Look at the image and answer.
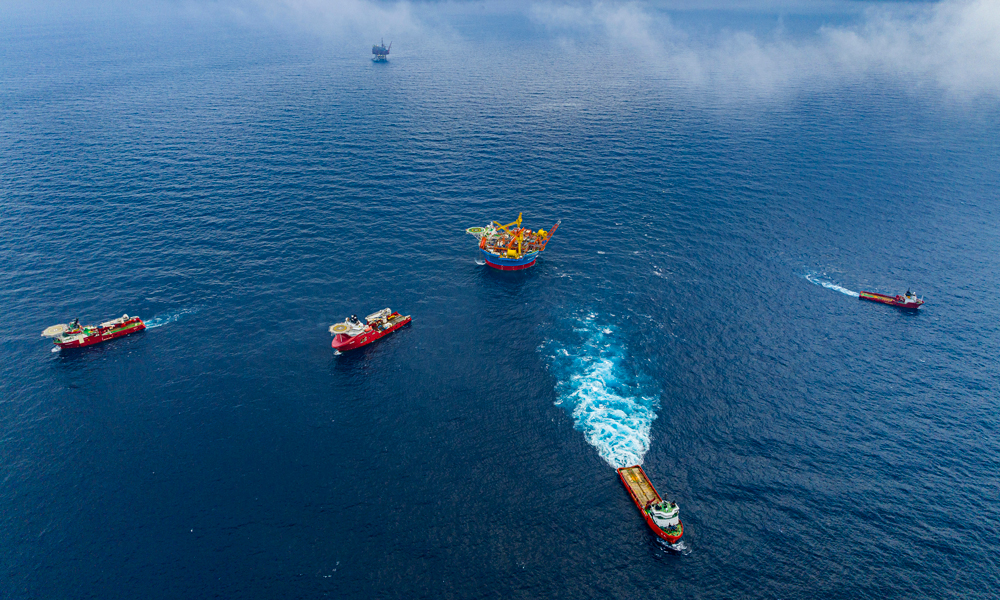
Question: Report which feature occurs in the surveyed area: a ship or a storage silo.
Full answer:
This aerial view contains a ship.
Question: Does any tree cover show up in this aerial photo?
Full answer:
No, no tree cover is visible.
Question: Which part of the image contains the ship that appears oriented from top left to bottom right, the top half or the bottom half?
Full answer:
The ship that appears oriented from top left to bottom right sits in the bottom half of the picture.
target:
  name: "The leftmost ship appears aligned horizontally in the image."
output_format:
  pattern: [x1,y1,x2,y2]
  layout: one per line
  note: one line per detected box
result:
[41,315,145,348]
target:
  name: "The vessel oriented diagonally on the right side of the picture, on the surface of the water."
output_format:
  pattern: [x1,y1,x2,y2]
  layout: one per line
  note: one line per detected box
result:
[618,466,680,541]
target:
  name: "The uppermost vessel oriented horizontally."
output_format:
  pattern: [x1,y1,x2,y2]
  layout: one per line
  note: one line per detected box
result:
[859,285,924,309]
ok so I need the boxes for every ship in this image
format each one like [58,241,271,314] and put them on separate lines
[618,466,680,541]
[41,315,145,348]
[859,285,924,309]
[330,308,410,351]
